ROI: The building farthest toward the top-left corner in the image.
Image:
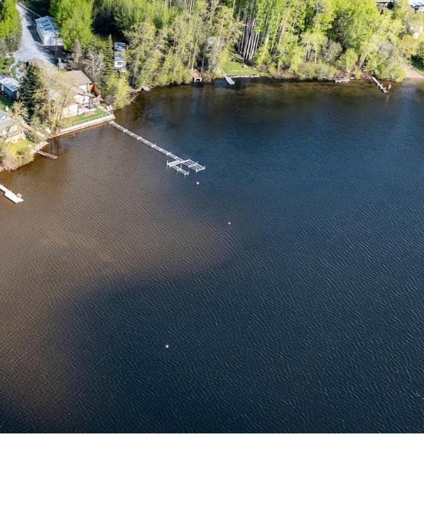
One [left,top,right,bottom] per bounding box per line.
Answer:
[37,16,64,45]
